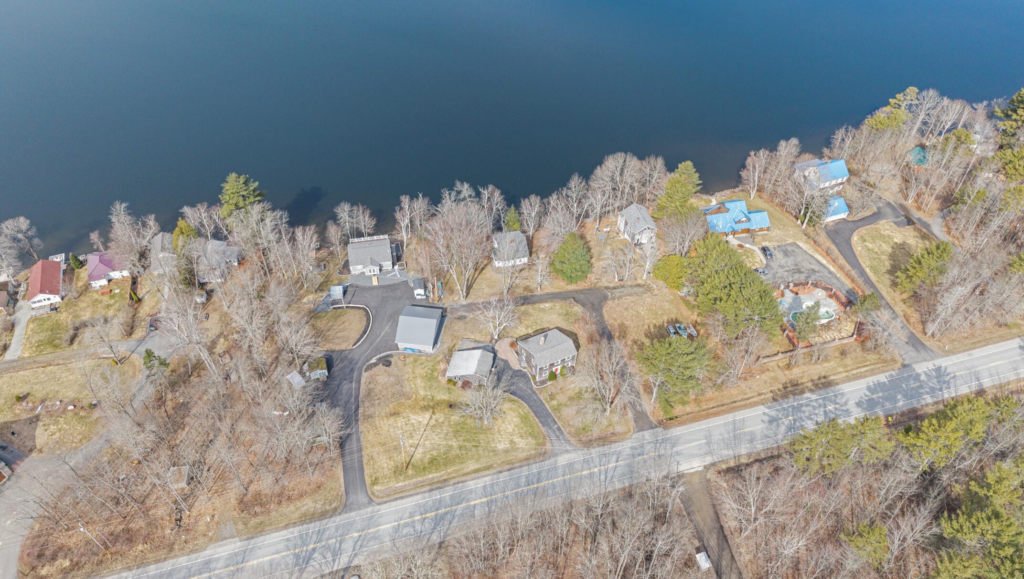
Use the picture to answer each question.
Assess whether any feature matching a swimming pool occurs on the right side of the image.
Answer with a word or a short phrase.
Yes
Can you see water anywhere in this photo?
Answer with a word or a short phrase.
Yes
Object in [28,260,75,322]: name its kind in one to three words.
house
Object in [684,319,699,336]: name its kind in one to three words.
boat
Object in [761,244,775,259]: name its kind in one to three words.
car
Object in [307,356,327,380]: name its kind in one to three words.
shed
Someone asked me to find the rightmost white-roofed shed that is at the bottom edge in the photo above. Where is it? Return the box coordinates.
[693,550,716,575]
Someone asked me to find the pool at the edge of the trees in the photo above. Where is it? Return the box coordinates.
[790,299,836,325]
